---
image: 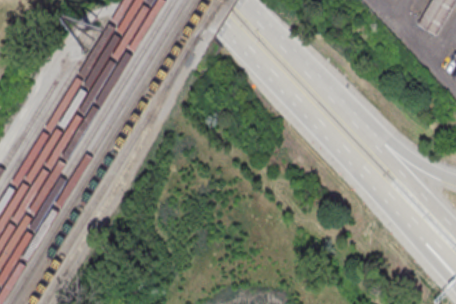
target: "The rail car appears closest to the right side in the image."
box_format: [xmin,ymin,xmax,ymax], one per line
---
[182,0,214,42]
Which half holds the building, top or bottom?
top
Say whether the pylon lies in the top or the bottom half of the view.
top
